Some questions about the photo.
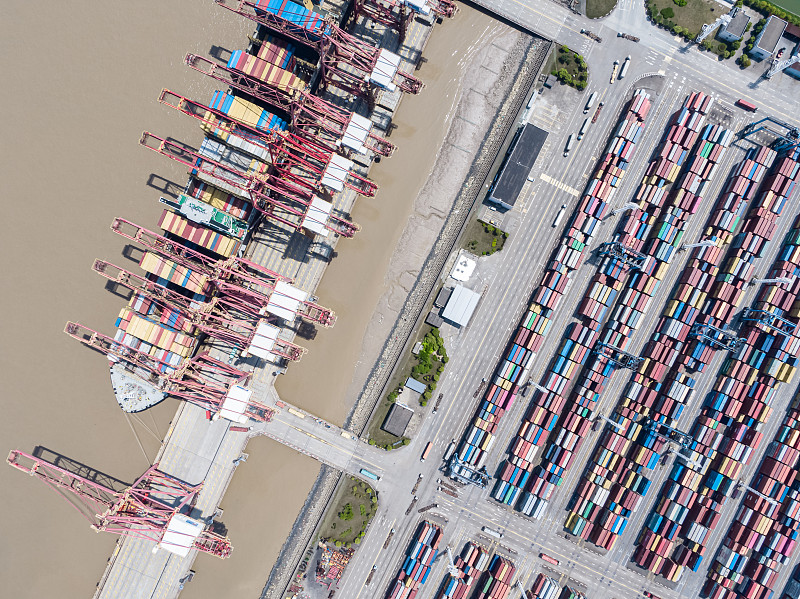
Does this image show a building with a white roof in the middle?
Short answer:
Yes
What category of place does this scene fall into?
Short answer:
port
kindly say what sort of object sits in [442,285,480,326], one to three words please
building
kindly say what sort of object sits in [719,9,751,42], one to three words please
building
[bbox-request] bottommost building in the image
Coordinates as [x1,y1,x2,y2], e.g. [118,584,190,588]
[385,401,414,436]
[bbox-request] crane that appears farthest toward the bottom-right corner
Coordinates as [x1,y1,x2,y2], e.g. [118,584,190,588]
[641,414,696,451]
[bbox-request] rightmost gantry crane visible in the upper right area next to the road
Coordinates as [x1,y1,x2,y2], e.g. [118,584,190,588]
[741,114,800,152]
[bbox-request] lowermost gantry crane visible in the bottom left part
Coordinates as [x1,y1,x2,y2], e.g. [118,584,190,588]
[4,447,234,564]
